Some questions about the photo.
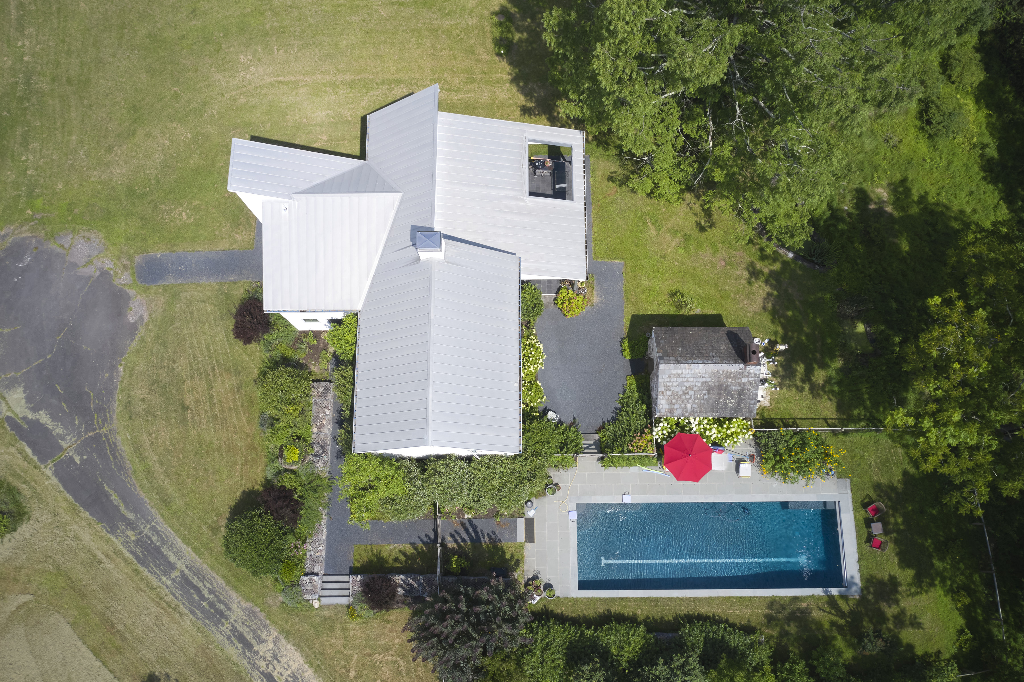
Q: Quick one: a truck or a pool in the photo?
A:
pool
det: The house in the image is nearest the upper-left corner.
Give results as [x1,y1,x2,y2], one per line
[225,83,589,463]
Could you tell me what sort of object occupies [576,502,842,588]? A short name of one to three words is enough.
swimming pool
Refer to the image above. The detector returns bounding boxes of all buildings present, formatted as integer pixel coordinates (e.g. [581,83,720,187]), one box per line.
[647,327,760,418]
[225,83,589,463]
